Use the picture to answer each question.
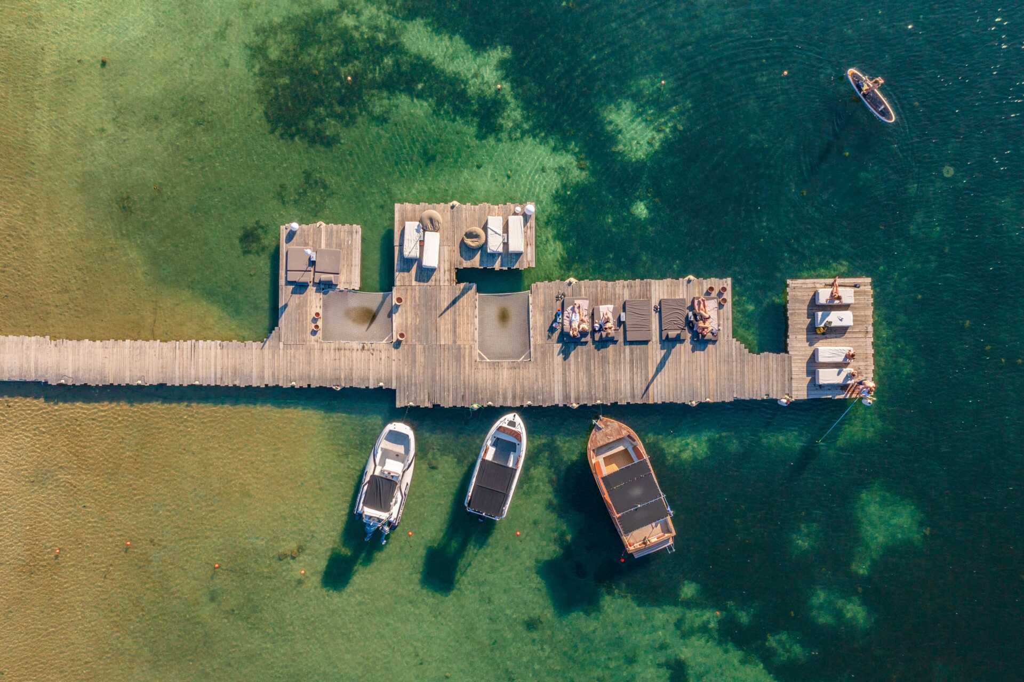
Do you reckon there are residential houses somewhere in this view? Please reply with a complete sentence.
No, there appears to be no residential house in this shot.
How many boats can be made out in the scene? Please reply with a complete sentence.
My tally gives 3 boats in this view.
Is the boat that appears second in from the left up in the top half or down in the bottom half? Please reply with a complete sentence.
It is in the bottom half that the boat that appears second in from the left appears.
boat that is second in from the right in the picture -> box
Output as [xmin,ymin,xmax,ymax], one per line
[465,412,526,521]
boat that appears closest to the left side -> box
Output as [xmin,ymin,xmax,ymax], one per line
[354,422,415,541]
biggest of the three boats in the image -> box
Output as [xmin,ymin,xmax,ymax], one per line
[588,415,676,554]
